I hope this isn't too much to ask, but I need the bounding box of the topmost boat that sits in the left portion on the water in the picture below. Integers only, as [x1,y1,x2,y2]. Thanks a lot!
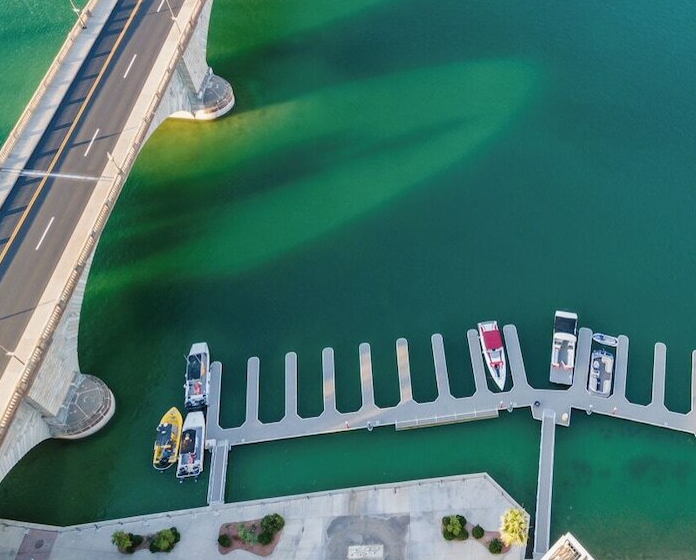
[184,344,211,409]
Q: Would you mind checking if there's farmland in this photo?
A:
No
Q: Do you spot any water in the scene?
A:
Yes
